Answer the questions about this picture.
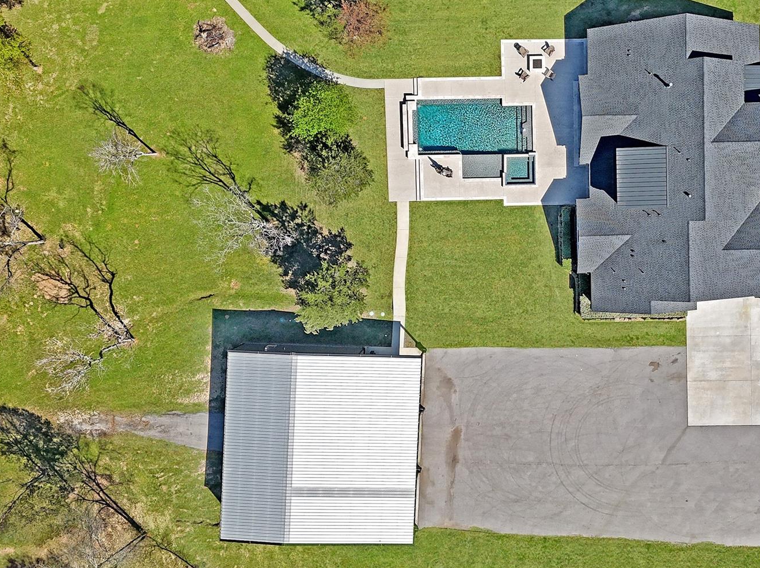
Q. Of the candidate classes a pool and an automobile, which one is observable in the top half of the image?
pool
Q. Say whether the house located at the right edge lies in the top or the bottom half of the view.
top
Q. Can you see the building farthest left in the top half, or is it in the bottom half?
bottom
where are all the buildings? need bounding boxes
[576,14,760,313]
[220,343,424,550]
